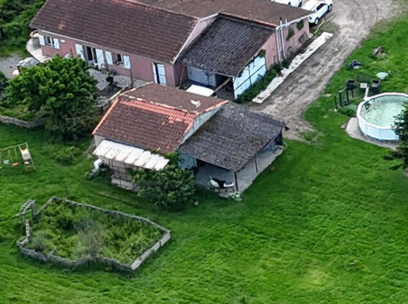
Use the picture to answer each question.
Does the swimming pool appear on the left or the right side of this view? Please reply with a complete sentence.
It is on the right.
